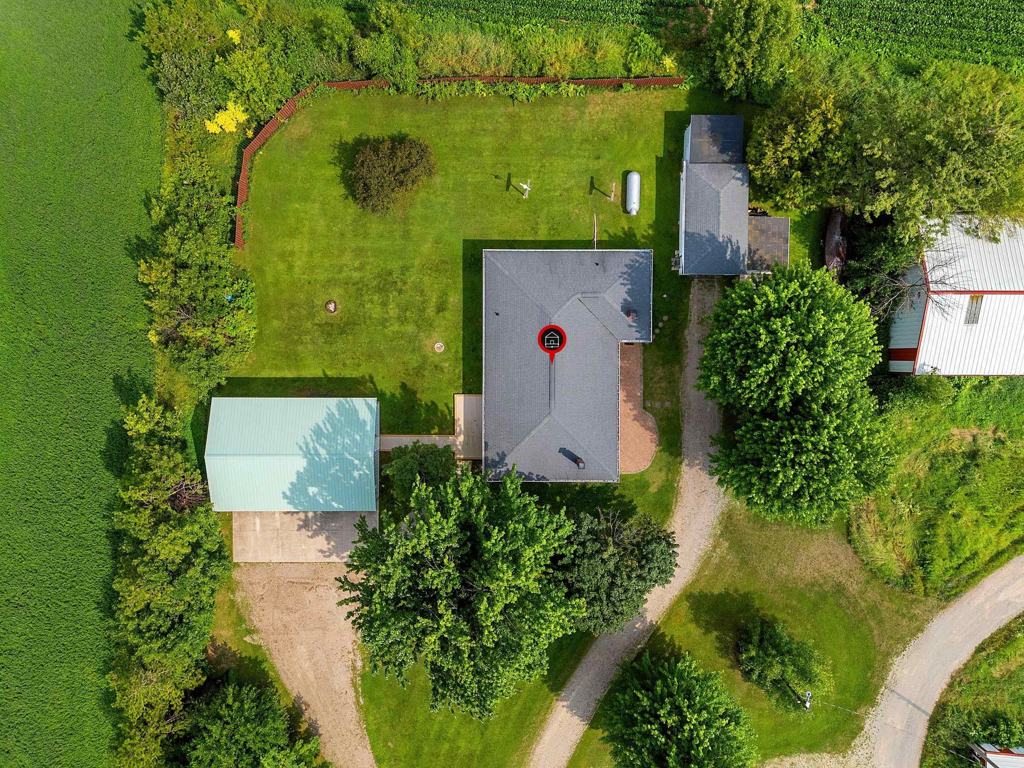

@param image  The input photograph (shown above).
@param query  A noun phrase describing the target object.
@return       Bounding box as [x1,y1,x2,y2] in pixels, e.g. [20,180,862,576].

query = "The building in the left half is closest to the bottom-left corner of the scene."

[204,397,381,511]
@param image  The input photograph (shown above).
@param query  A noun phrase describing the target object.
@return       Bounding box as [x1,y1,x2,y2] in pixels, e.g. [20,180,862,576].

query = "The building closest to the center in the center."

[481,248,655,484]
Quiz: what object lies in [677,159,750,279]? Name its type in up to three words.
shed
